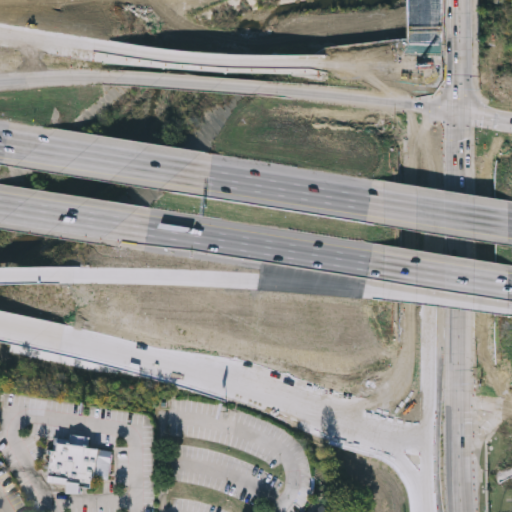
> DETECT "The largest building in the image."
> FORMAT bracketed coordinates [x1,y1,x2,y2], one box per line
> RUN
[46,435,112,494]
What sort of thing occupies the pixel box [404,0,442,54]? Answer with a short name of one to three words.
bridge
